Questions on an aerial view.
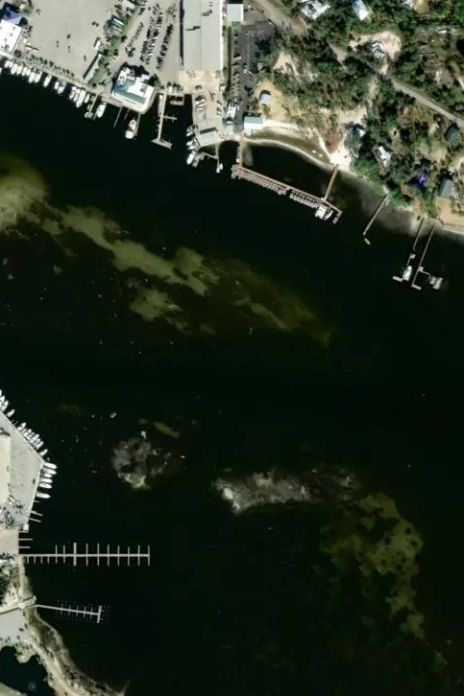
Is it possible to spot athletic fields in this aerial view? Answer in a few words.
No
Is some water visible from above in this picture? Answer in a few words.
Yes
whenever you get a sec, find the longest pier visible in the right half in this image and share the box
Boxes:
[232,136,342,223]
